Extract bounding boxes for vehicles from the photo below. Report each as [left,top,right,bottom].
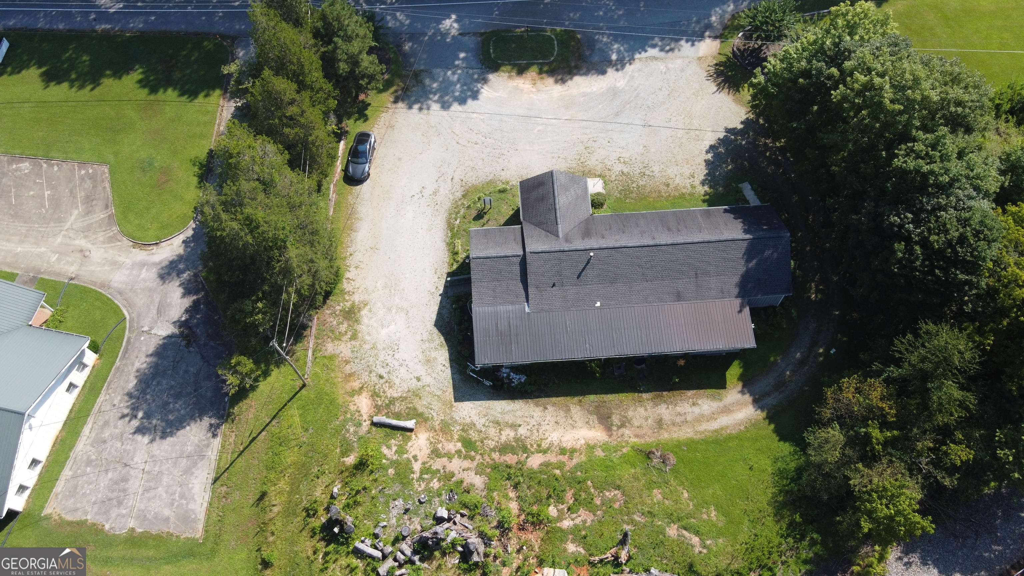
[344,125,377,179]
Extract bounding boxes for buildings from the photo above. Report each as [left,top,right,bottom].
[466,169,794,379]
[0,276,97,516]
